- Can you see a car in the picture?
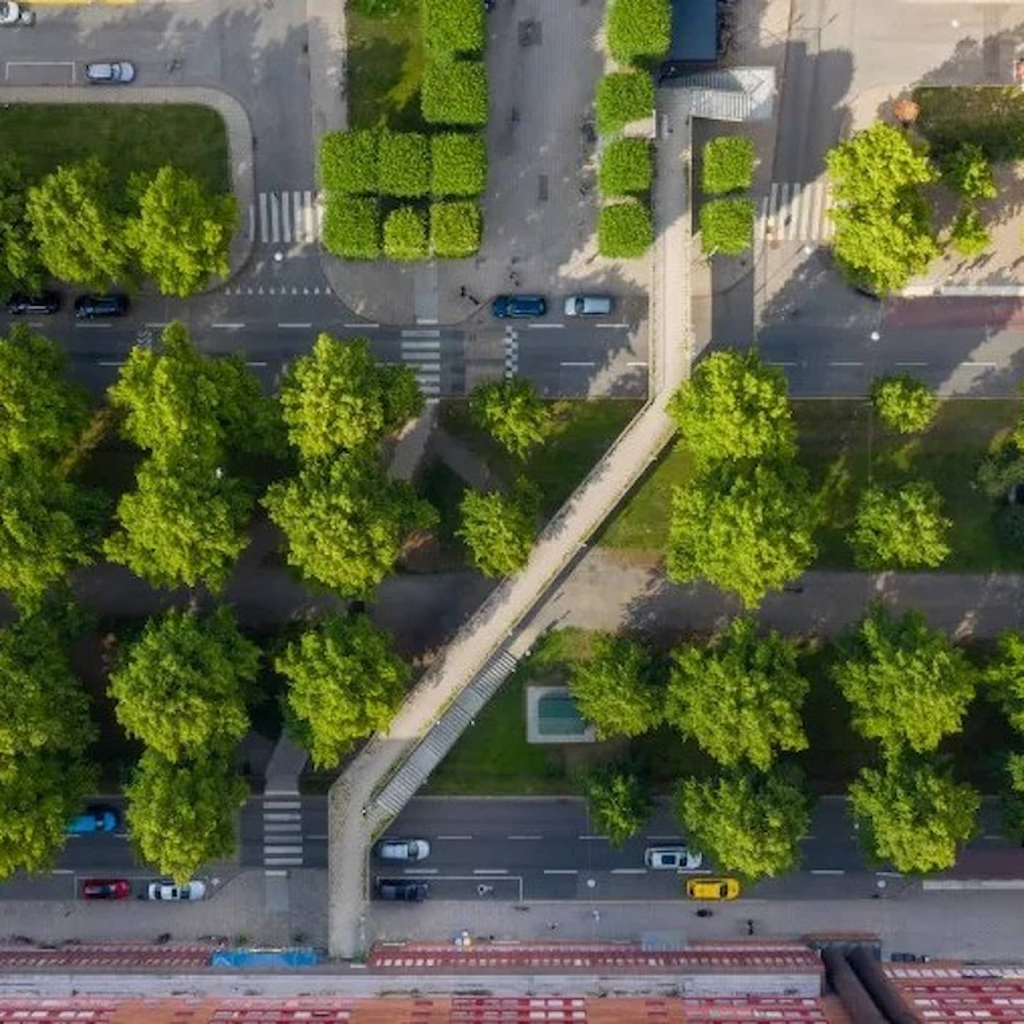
Yes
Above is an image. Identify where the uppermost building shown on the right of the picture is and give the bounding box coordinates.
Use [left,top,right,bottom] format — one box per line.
[670,0,716,72]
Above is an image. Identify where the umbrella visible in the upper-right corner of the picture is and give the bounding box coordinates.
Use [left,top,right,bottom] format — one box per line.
[894,100,919,125]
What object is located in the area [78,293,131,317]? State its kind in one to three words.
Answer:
car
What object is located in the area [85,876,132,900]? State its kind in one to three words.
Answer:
car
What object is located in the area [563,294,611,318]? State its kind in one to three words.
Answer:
vehicle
